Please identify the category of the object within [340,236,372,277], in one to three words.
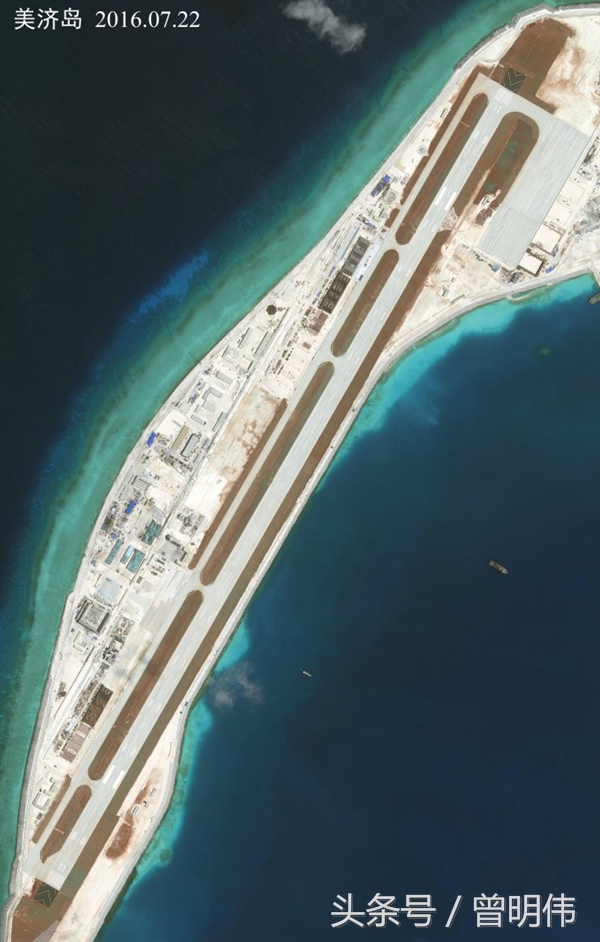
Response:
building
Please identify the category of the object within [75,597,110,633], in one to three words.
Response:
building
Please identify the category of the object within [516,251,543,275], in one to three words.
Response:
hangar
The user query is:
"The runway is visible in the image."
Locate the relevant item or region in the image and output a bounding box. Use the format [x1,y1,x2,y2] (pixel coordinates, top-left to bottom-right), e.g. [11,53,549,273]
[42,84,518,890]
